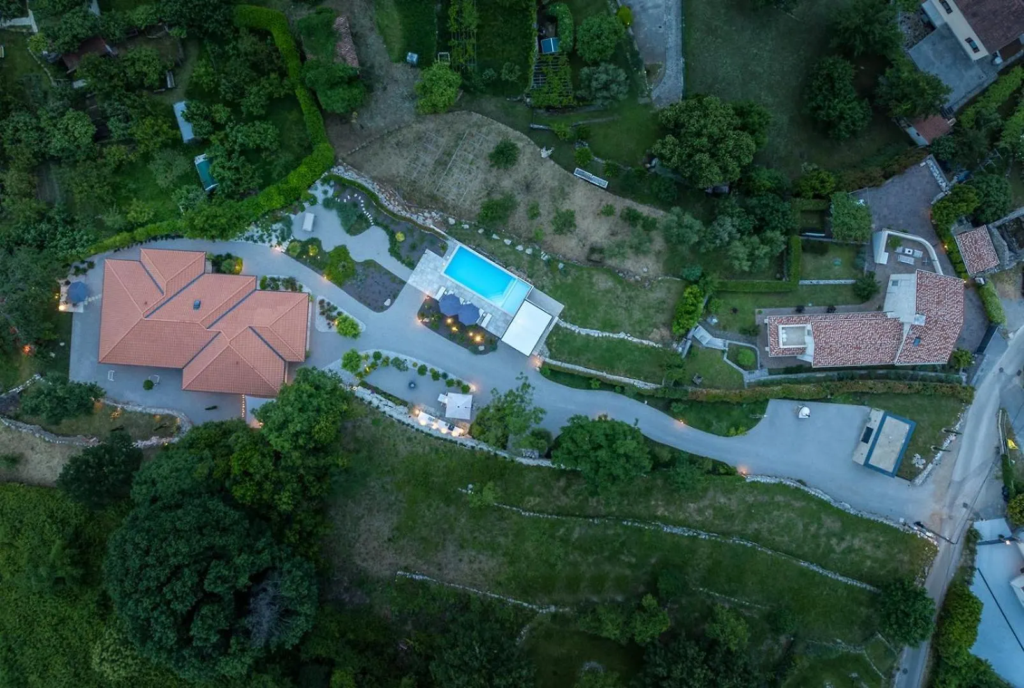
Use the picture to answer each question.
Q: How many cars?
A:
none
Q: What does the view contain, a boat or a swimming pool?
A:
swimming pool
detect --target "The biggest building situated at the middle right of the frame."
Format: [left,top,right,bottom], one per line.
[763,269,965,368]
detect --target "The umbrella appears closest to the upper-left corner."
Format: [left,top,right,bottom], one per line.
[69,282,94,303]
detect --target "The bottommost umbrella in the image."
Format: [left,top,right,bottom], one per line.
[446,393,472,419]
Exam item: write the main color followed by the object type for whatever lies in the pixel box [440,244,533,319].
blue swimming pool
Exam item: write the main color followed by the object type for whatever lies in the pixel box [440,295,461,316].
blue umbrella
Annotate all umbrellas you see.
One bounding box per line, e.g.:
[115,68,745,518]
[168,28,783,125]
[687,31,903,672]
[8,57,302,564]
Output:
[446,393,472,419]
[69,282,94,303]
[458,303,481,326]
[440,295,461,316]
